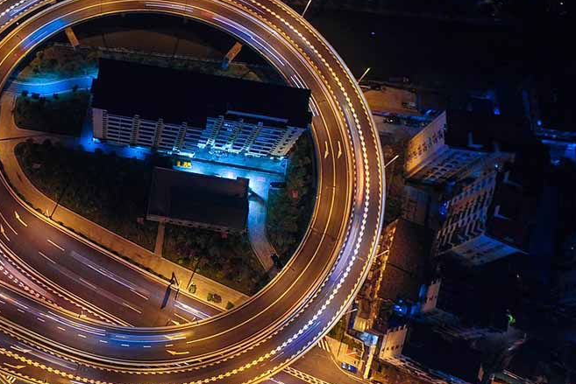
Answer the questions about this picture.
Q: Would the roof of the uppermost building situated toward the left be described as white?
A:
No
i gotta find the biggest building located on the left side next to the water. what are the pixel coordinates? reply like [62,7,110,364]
[91,55,315,160]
